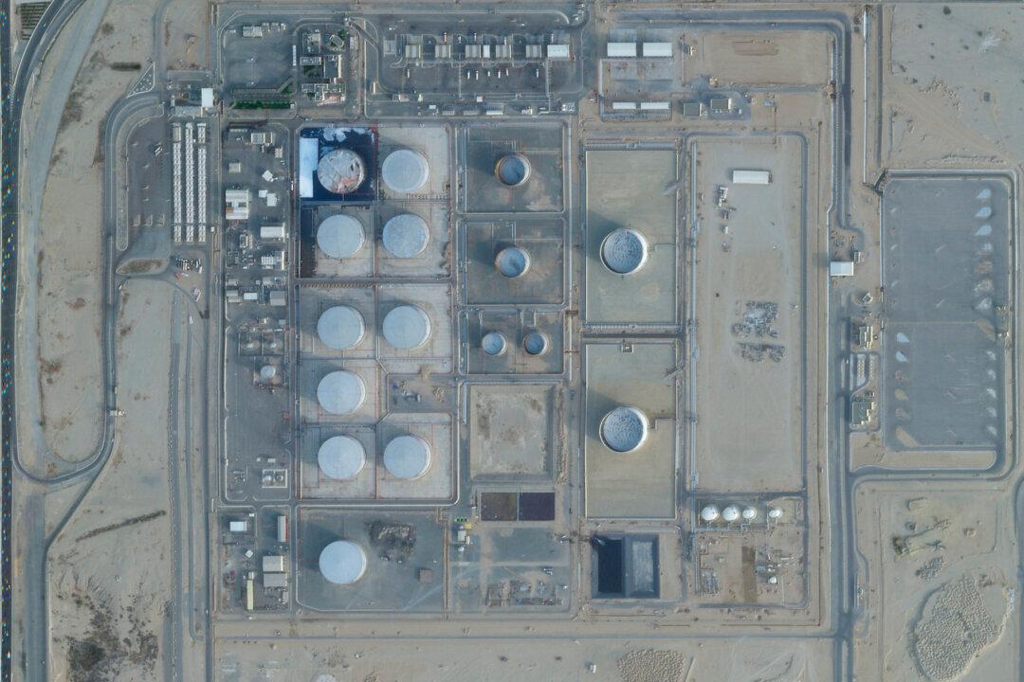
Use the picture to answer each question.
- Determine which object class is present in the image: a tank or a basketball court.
tank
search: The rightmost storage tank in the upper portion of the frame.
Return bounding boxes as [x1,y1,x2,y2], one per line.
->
[600,228,654,275]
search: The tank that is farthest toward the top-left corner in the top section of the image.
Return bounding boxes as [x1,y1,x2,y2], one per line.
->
[316,146,366,195]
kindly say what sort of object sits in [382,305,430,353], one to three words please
storage tank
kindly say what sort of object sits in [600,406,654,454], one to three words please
storage tank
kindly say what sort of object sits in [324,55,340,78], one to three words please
building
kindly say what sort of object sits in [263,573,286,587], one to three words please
building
